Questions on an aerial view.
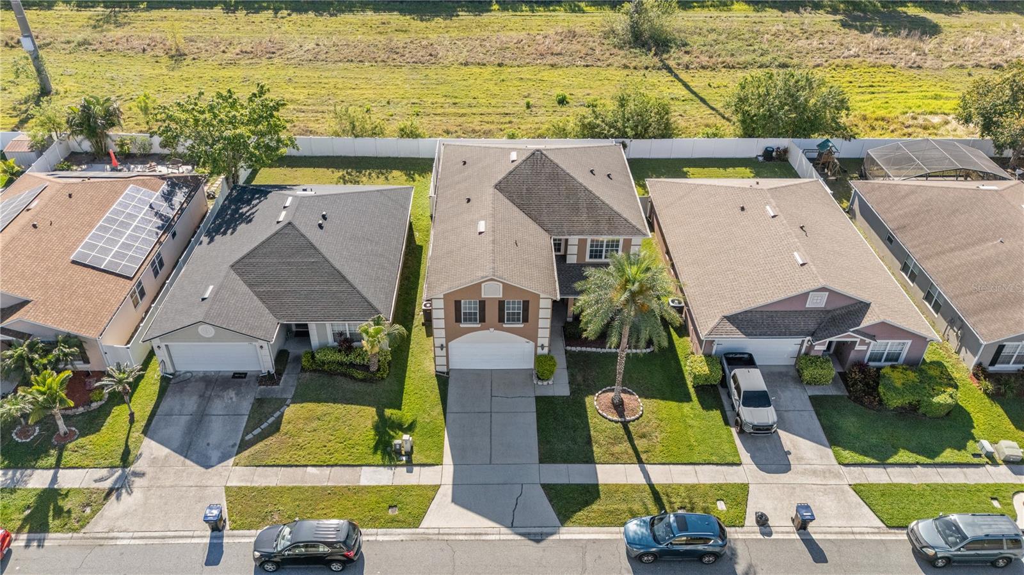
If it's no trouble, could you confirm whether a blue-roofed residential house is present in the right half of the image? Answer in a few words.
No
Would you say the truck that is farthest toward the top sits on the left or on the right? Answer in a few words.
right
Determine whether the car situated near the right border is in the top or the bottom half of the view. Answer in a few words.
bottom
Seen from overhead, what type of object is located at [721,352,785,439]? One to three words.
truck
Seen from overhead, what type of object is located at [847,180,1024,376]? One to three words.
house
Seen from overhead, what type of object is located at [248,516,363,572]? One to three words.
car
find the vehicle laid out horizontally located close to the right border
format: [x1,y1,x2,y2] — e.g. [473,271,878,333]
[908,513,1024,570]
